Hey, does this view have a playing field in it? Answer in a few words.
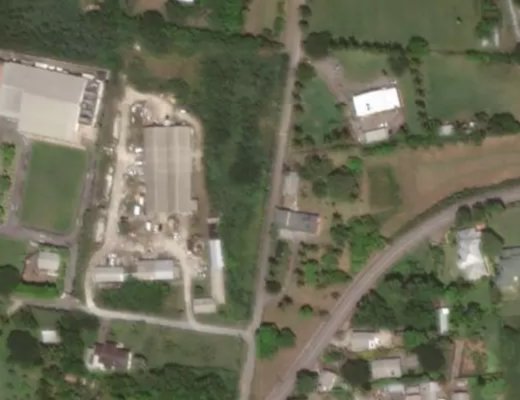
Yes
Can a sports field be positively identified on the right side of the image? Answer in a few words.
No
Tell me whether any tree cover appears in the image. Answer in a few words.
Yes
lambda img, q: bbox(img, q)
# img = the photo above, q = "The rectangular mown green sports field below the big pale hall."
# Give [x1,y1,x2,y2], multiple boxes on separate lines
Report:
[21,142,86,236]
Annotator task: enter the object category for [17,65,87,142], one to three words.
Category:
building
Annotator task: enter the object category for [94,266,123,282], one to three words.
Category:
shed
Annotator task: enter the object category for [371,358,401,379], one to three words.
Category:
house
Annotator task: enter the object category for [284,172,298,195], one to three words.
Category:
shed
